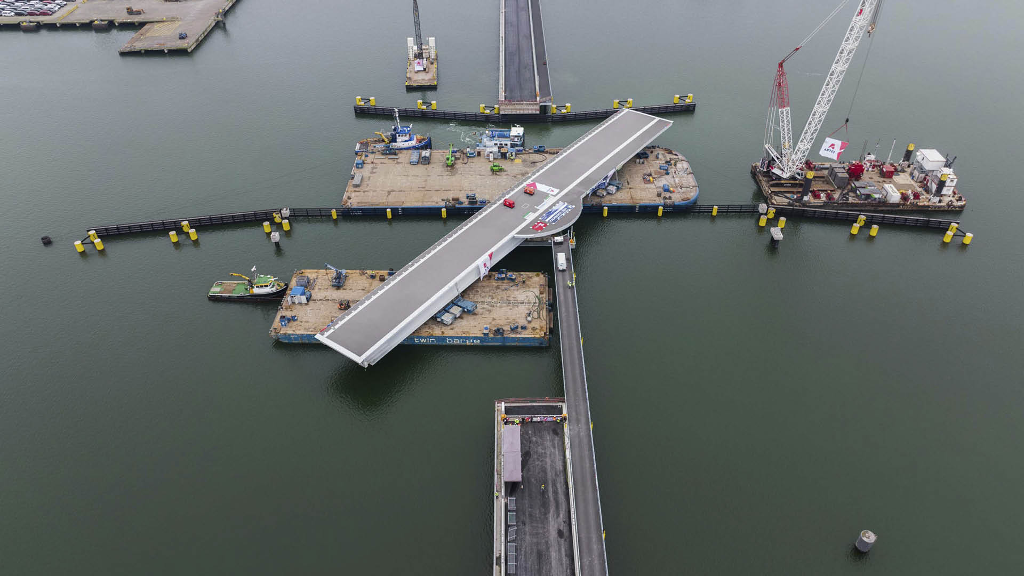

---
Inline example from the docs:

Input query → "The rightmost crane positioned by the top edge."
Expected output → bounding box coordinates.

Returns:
[752,0,887,187]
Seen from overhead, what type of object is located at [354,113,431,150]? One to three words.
boat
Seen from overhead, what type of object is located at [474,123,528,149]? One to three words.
boat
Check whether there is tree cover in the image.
No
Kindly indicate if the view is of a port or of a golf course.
port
